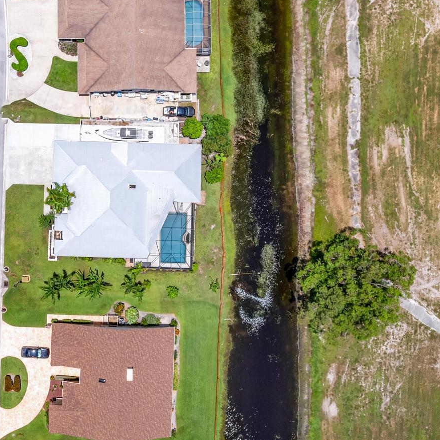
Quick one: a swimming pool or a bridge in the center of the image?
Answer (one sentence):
What appears in the center of the image is a swimming pool.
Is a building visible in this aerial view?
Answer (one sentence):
Yes, a building can be made out from above.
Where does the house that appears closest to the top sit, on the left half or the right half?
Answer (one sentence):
You can find the house that appears closest to the top on the left side of the picture.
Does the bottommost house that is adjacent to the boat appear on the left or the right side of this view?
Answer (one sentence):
The bottommost house that is adjacent to the boat appears in the left half of the scene.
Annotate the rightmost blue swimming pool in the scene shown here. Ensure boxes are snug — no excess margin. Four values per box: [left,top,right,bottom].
[186,0,205,48]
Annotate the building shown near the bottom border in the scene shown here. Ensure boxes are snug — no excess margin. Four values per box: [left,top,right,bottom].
[48,322,175,440]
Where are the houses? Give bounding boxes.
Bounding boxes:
[52,140,202,258]
[57,0,197,94]
[48,322,175,440]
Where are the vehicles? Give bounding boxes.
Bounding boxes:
[21,346,49,360]
[163,104,195,119]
